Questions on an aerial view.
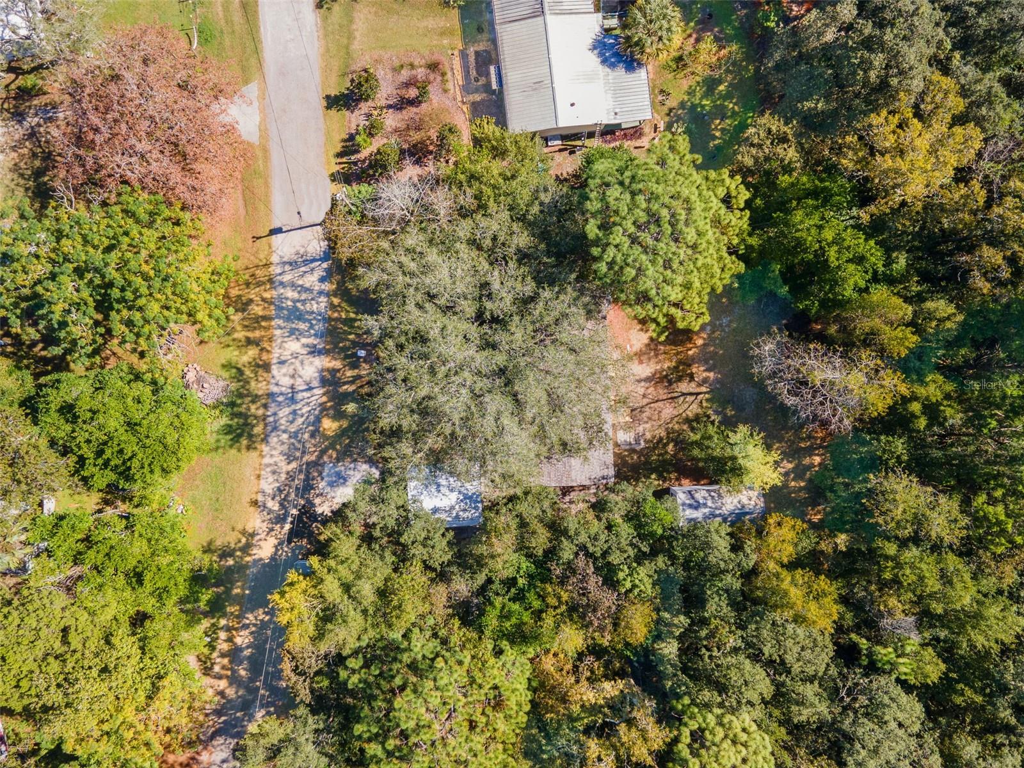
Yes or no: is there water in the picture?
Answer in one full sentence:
No, there's no water in this view.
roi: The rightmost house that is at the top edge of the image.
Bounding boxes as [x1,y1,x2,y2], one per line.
[488,0,650,138]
